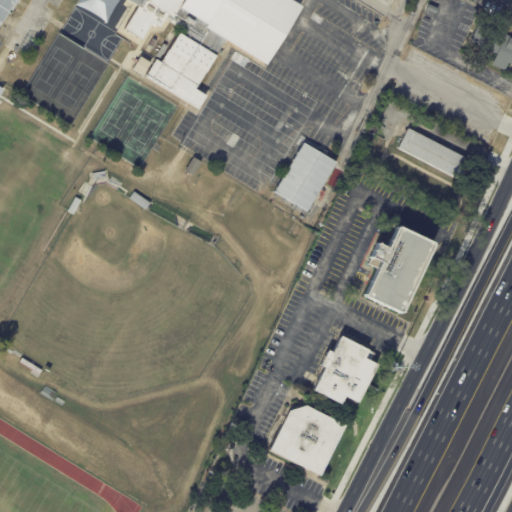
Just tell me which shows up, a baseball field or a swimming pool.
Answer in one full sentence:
The one in the frame is a baseball field.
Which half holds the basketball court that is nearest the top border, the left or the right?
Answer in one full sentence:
The basketball court that is nearest the top border appears in the left half of the scene.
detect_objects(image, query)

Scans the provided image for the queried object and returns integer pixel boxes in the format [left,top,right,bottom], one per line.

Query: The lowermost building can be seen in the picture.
[268,406,346,476]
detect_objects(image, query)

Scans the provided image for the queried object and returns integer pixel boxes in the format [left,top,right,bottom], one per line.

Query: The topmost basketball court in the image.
[62,0,131,62]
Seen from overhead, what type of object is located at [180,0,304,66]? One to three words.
building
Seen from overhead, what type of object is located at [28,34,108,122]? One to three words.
tennis court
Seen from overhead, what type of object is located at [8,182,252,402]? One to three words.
baseball field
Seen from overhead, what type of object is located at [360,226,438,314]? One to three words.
building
